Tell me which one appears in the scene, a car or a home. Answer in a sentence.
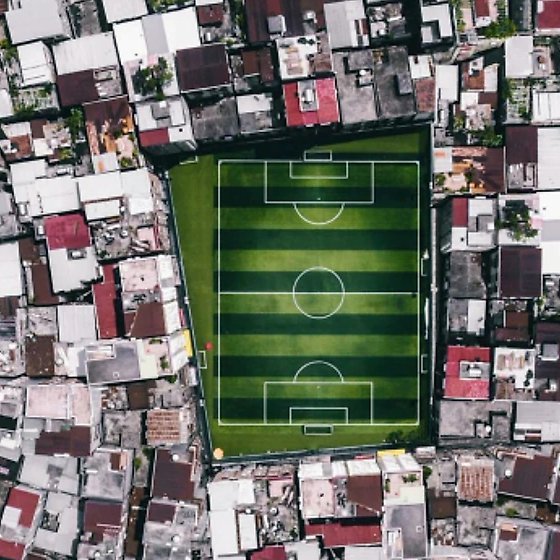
I can see a home in this picture.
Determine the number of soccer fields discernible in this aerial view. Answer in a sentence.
Only 1 soccer field is visible.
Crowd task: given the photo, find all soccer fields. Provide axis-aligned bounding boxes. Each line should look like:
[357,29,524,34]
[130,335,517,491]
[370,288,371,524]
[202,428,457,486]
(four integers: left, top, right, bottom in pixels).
[169,125,433,463]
